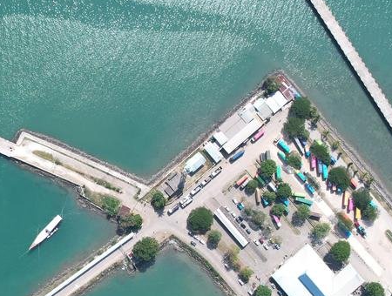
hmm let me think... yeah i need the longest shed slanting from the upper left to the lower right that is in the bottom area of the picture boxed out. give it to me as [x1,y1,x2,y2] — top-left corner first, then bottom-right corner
[213,208,248,247]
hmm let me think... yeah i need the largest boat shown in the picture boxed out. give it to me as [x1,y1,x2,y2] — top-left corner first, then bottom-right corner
[28,214,62,250]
